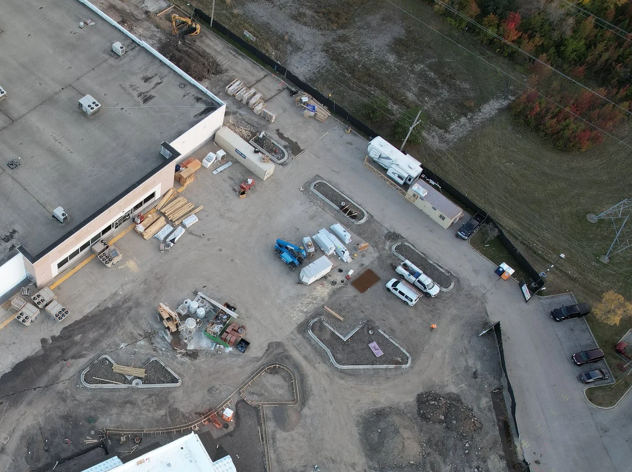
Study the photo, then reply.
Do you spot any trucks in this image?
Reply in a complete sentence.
Yes, you can see a truck in this photo.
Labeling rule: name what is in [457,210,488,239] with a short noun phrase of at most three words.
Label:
truck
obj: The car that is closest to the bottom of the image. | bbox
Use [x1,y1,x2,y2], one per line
[576,368,611,386]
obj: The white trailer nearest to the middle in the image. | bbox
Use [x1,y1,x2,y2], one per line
[293,255,334,287]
